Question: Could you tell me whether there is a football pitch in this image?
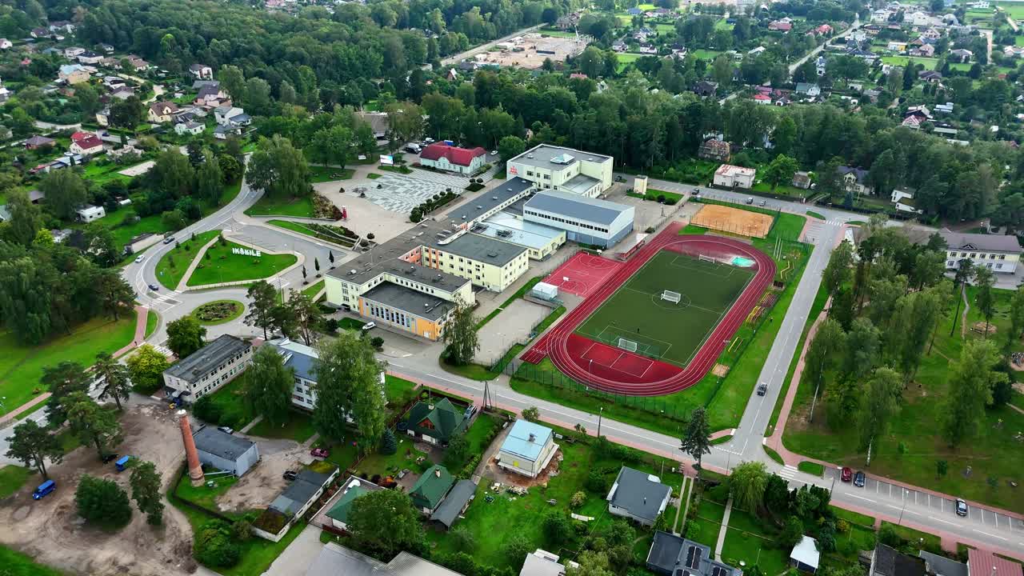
Yes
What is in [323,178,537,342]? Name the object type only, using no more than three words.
building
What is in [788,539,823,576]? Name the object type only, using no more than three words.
shed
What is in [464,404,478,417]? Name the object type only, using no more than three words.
vehicle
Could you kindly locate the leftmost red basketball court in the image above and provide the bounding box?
[542,251,625,298]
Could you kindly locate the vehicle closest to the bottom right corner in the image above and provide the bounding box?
[955,495,968,514]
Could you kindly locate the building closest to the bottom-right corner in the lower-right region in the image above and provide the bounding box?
[962,545,1017,576]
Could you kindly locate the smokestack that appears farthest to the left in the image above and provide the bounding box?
[176,406,205,486]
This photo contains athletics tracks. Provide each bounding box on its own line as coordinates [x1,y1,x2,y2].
[519,221,776,394]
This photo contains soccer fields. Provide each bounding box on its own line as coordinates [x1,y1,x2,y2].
[574,250,757,367]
